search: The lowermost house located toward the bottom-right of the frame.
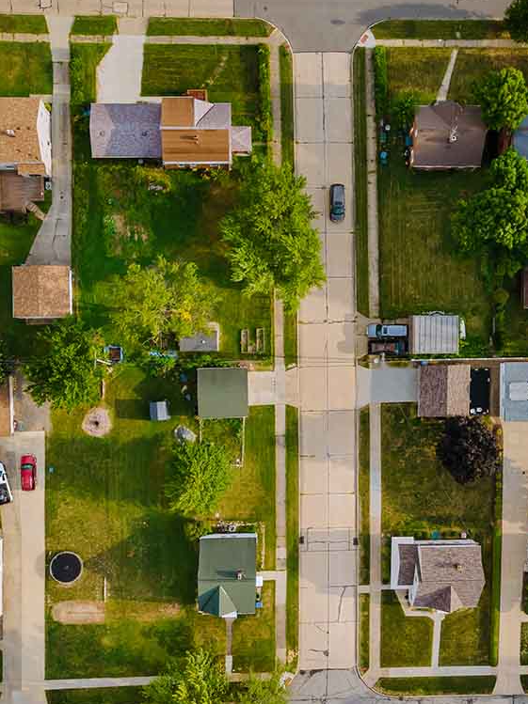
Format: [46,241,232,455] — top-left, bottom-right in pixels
[389,533,484,618]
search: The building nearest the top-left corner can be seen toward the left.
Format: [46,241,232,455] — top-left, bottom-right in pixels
[0,97,50,178]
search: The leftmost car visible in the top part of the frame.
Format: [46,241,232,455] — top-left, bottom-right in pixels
[328,184,346,223]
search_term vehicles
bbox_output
[368,339,407,356]
[19,453,37,490]
[0,462,13,505]
[367,321,407,338]
[328,184,346,223]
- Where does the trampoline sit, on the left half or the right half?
left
